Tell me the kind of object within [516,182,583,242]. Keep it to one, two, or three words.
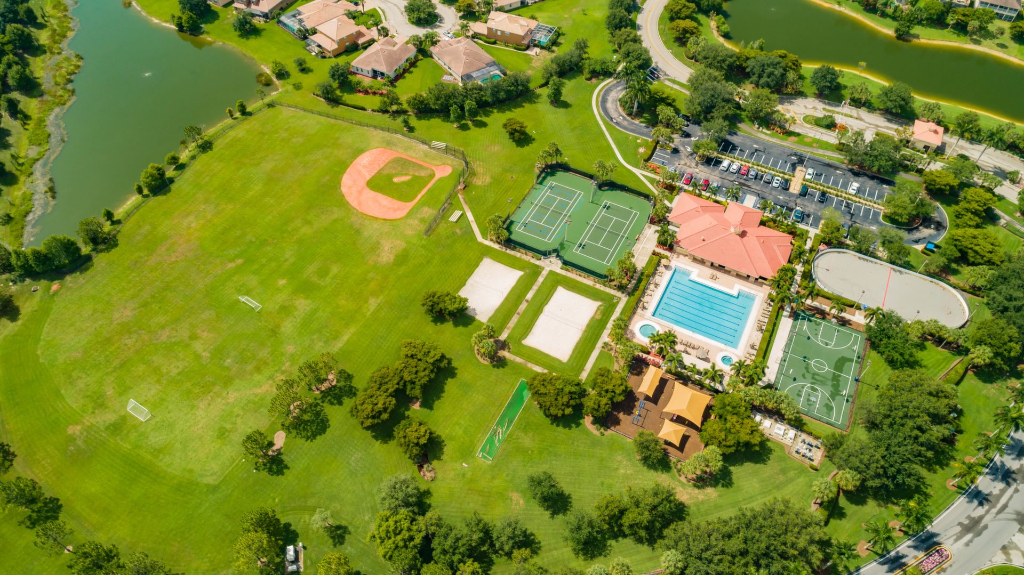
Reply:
tennis court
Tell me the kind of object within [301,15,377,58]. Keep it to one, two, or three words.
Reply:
house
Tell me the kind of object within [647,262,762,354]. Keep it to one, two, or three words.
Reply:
swimming pool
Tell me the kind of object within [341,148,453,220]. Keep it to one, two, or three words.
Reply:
baseball field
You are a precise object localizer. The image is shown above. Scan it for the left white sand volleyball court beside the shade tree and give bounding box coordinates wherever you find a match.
[458,256,523,322]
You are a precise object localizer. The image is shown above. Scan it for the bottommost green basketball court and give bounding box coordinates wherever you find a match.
[770,308,867,432]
